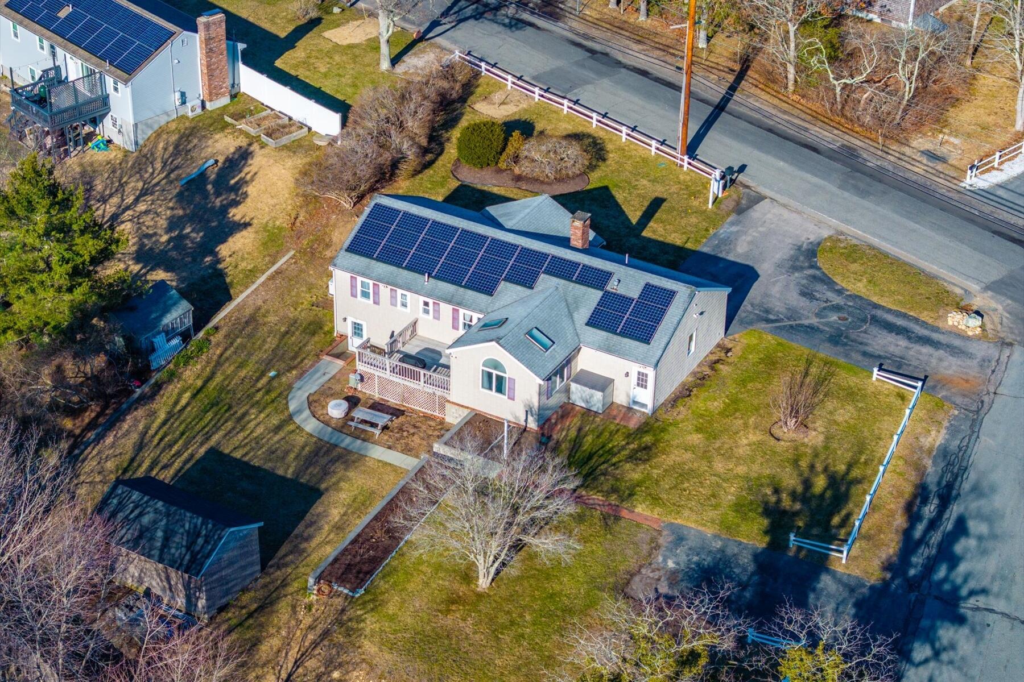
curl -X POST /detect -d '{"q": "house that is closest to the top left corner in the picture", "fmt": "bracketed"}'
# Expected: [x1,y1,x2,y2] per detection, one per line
[0,0,247,160]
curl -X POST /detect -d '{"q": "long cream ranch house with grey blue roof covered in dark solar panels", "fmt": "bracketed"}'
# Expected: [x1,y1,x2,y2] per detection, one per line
[328,191,733,431]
